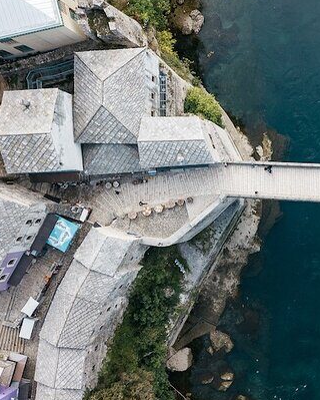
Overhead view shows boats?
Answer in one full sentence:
No, I can't see a single boat in this photo.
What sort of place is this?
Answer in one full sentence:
This looks like a residential area.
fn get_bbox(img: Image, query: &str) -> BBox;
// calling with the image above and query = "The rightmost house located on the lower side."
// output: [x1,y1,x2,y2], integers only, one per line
[33,227,150,400]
